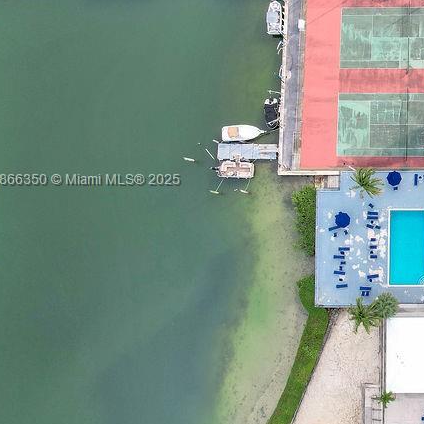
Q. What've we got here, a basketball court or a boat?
boat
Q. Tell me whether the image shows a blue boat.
No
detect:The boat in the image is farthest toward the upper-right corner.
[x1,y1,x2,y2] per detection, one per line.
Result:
[267,1,282,36]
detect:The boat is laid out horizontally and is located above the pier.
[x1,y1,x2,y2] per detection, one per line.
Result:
[222,125,265,141]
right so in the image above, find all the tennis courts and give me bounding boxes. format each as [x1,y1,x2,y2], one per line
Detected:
[300,82,424,169]
[304,0,424,82]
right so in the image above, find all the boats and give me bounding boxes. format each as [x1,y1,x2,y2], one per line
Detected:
[222,125,265,141]
[267,1,282,36]
[214,161,254,178]
[264,98,278,127]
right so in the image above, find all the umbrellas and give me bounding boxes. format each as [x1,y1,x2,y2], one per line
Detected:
[335,212,351,228]
[386,171,402,186]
